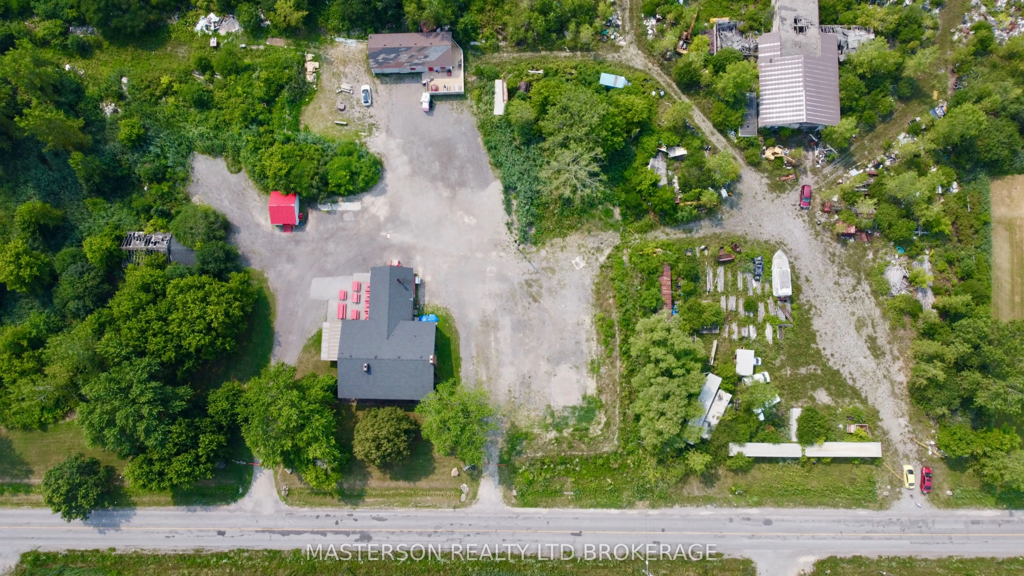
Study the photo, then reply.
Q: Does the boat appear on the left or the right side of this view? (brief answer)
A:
right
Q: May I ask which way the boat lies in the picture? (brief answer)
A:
vertically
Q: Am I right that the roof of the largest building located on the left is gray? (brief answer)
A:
Yes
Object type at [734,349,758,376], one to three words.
truck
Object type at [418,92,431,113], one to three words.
vehicle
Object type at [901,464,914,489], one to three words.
vehicle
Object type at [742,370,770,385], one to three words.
car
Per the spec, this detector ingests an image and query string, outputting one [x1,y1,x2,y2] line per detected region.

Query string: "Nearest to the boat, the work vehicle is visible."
[753,255,766,286]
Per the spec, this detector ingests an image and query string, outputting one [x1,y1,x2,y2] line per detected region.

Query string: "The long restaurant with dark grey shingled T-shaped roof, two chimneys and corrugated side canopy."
[321,266,436,400]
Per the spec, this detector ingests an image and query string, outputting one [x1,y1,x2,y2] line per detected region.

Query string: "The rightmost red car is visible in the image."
[918,467,931,493]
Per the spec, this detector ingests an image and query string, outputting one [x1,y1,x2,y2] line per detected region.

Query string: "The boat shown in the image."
[772,250,792,300]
